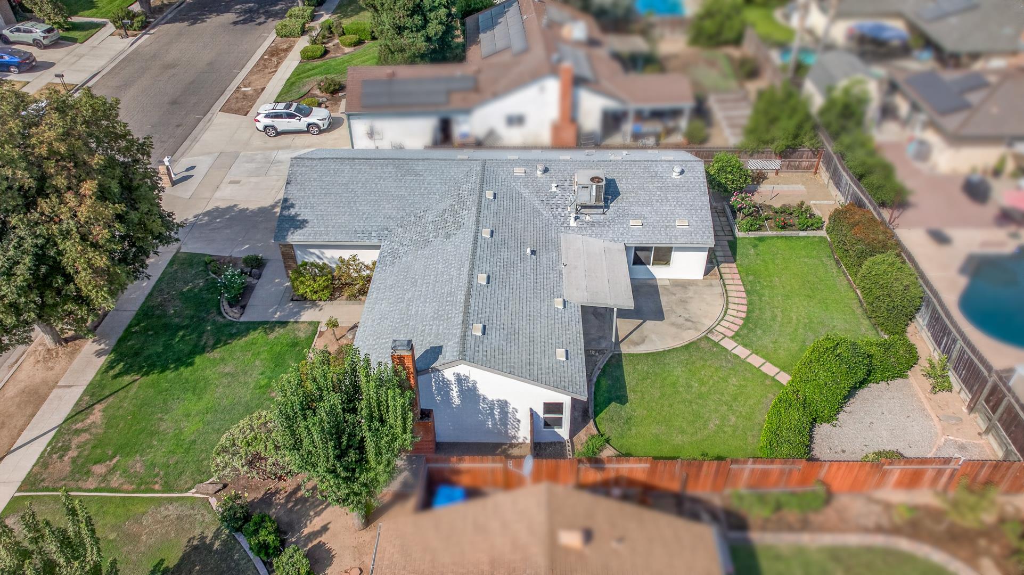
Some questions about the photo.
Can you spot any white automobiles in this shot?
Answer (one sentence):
Yes, there is a white automobile in the image.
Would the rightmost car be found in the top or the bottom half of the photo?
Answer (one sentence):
It is in the top half that the rightmost car appears.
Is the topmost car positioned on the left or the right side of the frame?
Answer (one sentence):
It is on the left.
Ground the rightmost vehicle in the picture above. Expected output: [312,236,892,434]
[254,100,332,137]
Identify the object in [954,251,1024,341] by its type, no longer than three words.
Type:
swimming pool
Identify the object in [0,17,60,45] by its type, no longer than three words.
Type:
car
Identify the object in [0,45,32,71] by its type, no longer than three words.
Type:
car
